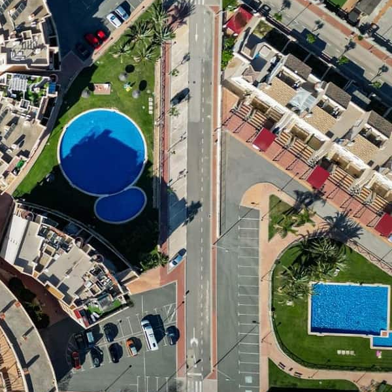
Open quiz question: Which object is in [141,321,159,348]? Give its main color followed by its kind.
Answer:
white camper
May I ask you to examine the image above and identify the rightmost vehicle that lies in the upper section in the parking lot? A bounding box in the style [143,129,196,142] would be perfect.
[172,89,188,103]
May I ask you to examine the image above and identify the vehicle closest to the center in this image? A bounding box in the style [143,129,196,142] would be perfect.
[169,249,185,264]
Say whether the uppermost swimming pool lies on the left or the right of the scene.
left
